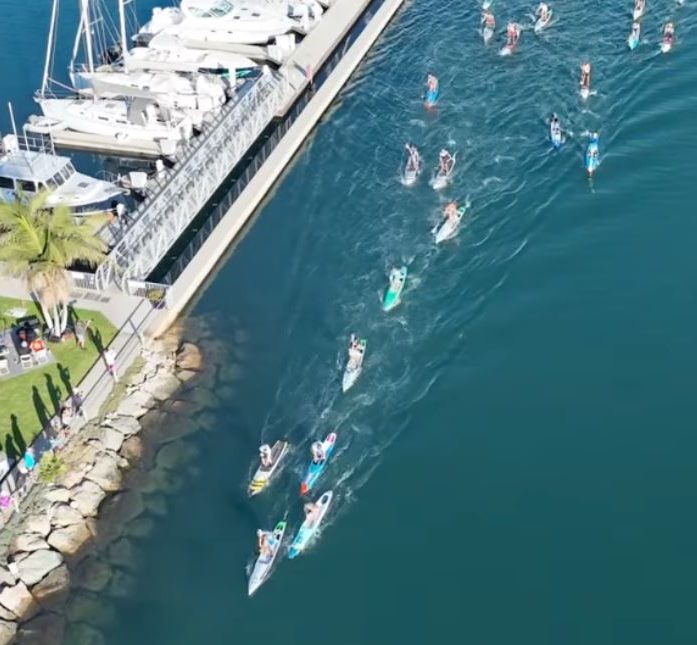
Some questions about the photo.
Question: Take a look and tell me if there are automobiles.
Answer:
No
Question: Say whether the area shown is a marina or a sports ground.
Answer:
marina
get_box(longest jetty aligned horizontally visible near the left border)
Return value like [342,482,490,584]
[23,132,193,163]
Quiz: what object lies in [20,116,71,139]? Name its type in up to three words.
boat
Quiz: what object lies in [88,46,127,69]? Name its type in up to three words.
boat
